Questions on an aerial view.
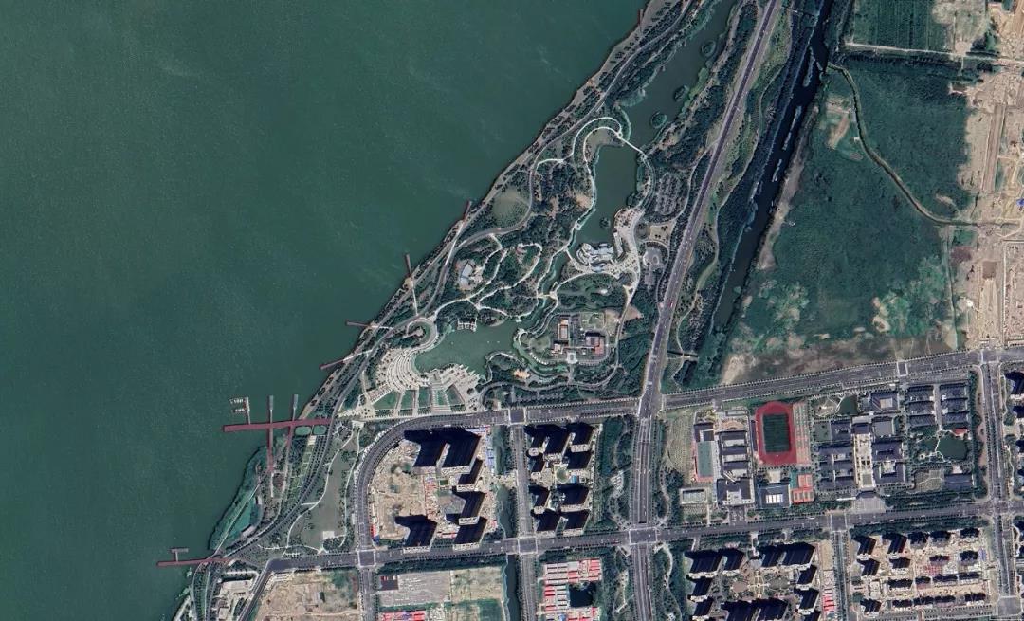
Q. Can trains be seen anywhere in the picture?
No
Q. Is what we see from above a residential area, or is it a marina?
marina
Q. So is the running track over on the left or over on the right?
right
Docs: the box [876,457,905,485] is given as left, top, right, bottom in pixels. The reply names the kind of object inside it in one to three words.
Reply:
building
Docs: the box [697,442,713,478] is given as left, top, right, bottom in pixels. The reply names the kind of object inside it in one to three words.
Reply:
sports court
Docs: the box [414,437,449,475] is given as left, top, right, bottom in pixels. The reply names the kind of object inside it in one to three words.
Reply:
building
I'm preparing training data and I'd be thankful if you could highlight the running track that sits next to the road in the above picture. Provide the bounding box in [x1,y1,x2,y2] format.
[756,401,796,466]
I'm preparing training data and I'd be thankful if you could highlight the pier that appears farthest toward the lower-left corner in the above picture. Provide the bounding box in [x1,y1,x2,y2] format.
[158,548,232,566]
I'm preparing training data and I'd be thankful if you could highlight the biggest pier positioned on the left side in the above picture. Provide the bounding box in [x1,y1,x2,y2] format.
[223,394,334,473]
